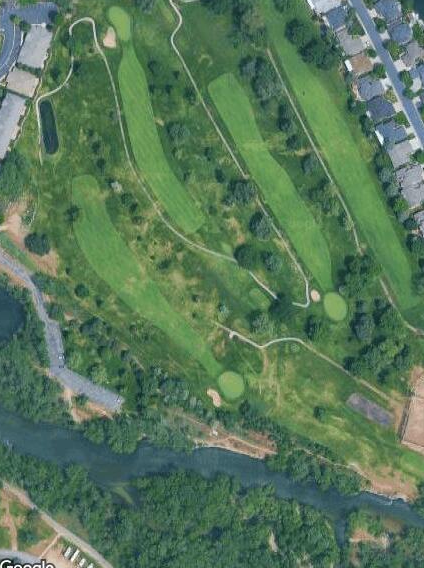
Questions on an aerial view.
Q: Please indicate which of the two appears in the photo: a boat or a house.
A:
house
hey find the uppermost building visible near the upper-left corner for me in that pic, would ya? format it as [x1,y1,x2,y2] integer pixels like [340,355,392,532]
[17,23,53,68]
